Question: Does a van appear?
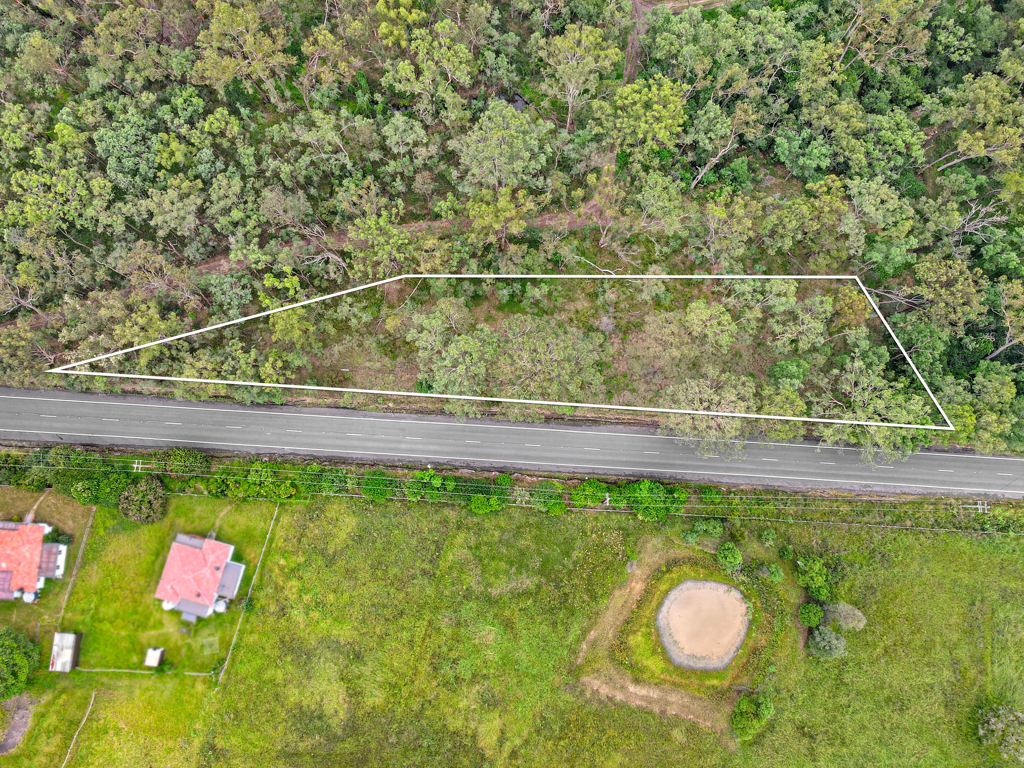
No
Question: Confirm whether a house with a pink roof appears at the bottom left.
Yes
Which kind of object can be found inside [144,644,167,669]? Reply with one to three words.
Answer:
shed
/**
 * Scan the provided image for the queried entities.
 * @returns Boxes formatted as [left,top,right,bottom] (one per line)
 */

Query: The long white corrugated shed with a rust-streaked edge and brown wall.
[48,627,83,675]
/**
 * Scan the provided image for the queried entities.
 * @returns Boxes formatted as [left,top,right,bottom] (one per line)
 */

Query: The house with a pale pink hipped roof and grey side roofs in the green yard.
[157,529,246,626]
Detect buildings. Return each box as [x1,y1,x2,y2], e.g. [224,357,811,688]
[48,627,83,675]
[144,644,167,669]
[0,509,70,602]
[157,529,246,626]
